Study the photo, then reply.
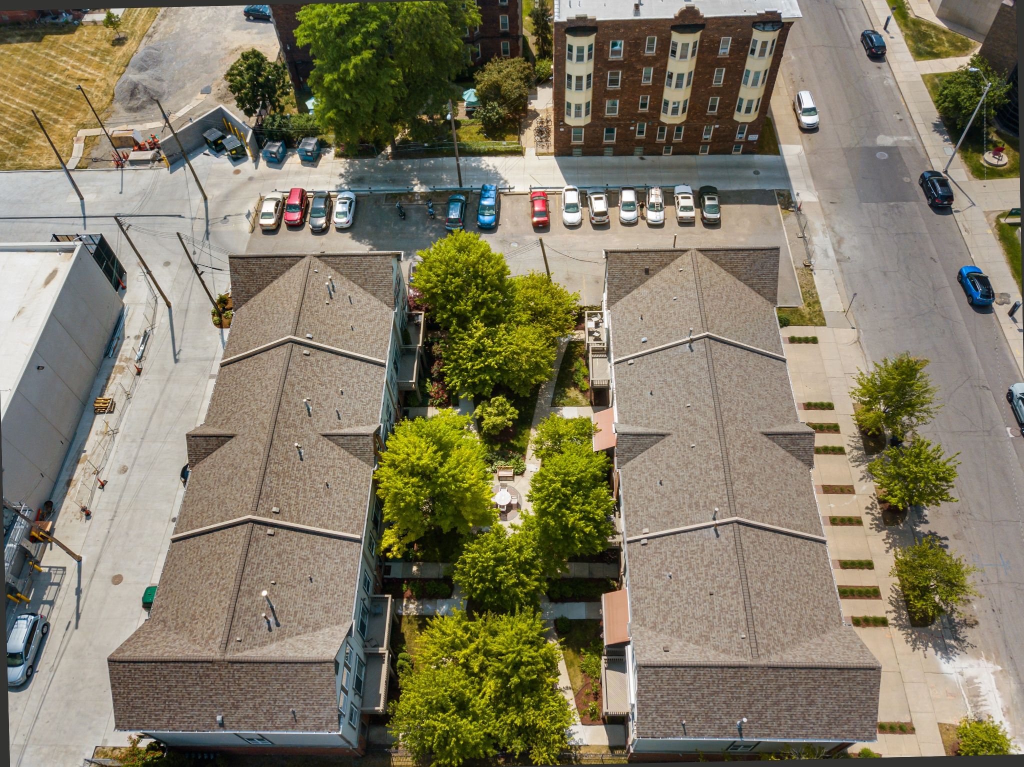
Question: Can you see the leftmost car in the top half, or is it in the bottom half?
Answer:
bottom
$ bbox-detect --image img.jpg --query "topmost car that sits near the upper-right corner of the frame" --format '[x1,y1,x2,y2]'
[861,29,887,57]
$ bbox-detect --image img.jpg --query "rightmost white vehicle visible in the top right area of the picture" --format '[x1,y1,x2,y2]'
[795,93,820,129]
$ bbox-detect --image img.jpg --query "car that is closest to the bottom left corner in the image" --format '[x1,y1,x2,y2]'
[2,610,49,687]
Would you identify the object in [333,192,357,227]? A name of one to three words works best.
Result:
car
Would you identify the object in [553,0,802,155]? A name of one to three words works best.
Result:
building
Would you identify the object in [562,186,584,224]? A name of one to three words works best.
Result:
car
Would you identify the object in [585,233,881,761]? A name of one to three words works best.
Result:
house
